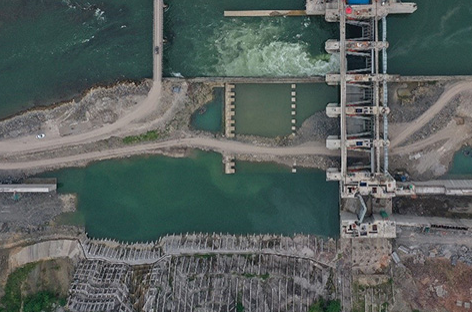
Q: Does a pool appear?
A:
Yes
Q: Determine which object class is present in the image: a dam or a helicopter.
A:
dam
